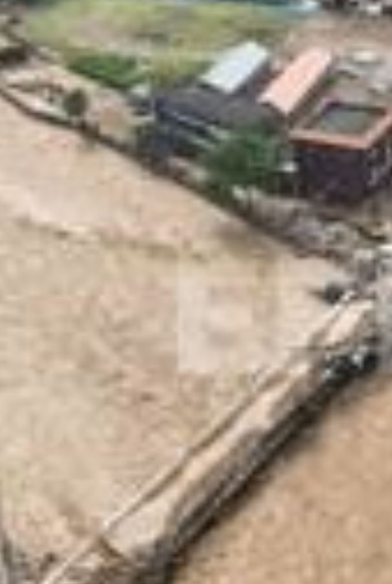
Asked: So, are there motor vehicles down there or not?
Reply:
No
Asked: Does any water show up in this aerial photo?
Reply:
Yes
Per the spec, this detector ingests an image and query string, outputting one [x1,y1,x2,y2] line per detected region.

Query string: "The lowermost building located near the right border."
[286,93,392,191]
